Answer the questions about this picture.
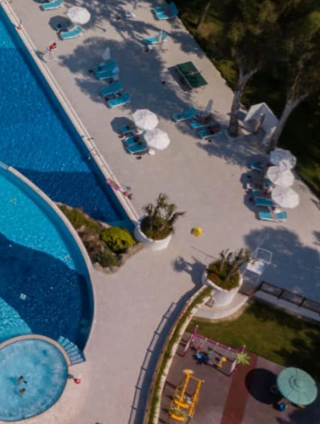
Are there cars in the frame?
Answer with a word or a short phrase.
No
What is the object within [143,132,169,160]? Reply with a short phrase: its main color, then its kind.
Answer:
white umbrella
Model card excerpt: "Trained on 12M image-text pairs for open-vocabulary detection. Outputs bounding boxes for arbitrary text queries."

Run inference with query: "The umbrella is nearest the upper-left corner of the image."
[66,9,90,28]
